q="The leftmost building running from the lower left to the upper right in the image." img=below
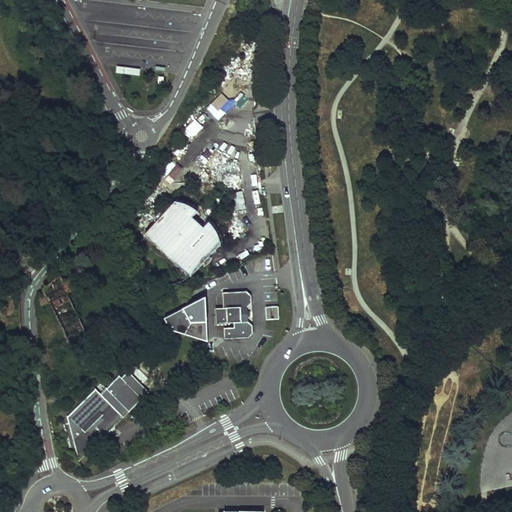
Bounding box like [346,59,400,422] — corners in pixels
[64,375,148,459]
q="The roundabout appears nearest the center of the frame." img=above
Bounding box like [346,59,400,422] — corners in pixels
[258,323,378,460]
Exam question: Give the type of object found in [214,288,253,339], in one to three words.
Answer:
building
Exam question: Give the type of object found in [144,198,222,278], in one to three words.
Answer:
building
